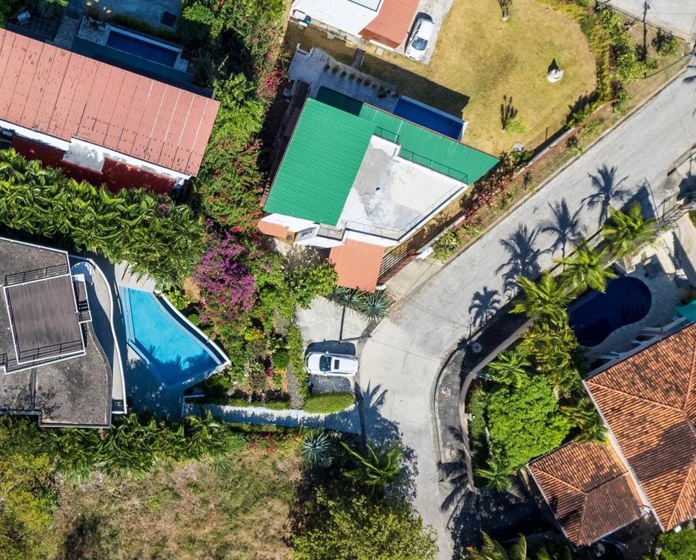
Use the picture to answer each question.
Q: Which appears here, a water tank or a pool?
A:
pool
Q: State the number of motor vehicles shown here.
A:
2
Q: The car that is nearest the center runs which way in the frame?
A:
from left to right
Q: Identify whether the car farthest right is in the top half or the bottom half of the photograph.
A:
top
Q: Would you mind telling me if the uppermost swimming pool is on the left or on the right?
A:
left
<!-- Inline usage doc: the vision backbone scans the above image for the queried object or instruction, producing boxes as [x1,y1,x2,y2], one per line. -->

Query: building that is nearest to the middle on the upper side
[258,75,501,292]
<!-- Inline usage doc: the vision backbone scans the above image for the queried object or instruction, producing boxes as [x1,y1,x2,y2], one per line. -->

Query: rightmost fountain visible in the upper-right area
[547,69,565,84]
